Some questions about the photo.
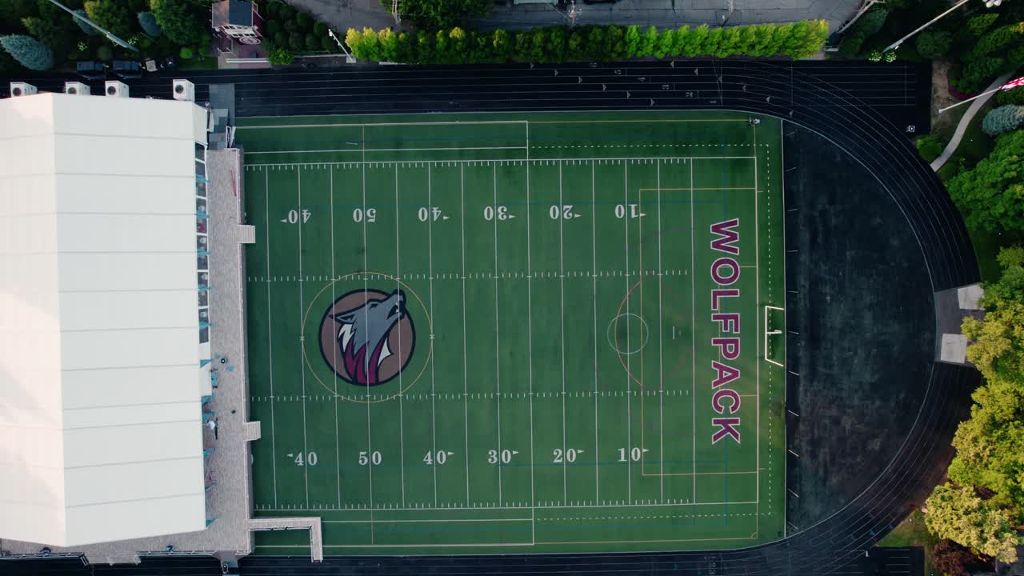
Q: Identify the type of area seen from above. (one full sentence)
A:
What you see here is a sports ground.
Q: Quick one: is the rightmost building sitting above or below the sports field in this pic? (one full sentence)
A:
The rightmost building is located above the sports field in this view.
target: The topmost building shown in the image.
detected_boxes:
[211,0,266,42]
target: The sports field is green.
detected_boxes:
[237,109,785,557]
